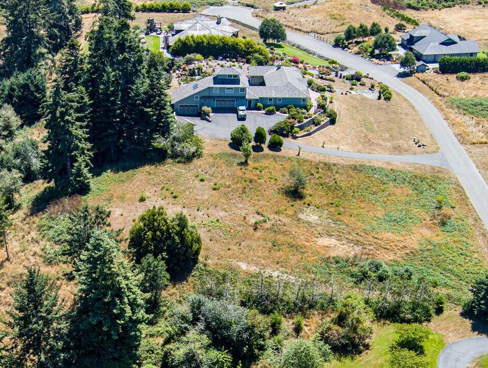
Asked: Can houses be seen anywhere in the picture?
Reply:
Yes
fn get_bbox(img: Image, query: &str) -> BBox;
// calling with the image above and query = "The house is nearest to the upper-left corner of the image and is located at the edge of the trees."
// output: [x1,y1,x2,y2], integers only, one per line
[153,8,240,45]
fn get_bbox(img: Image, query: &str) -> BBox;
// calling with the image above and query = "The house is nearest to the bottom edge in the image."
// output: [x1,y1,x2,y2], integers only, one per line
[167,67,310,114]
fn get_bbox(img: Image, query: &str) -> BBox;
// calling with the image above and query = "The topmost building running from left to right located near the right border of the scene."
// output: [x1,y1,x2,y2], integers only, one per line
[370,25,481,60]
